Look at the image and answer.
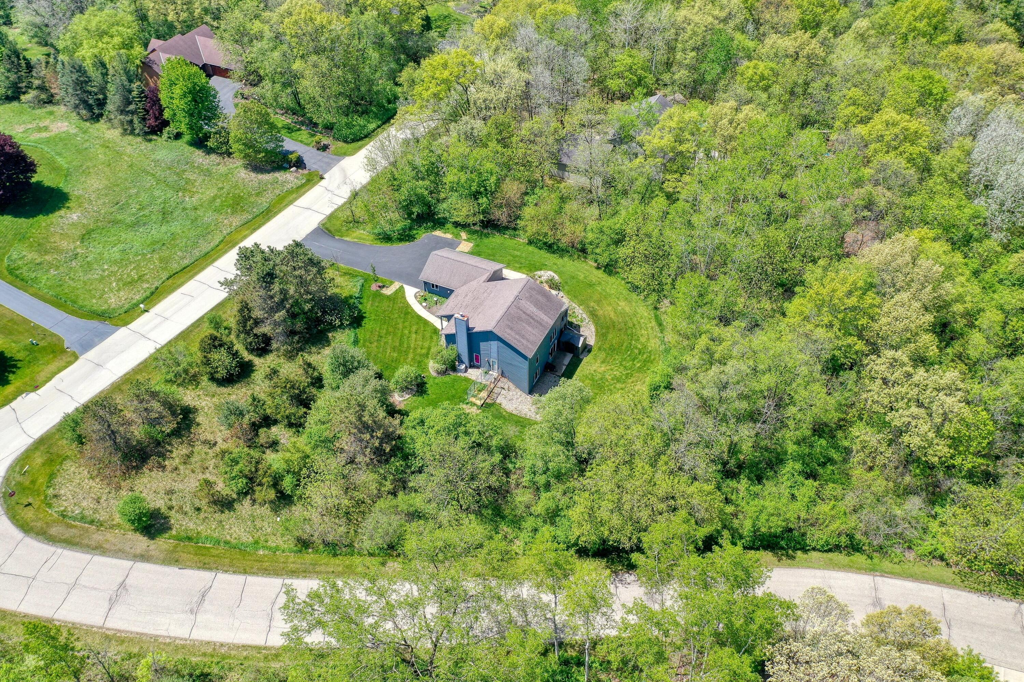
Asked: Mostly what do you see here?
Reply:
trees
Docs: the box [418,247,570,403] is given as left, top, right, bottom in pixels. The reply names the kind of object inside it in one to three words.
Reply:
house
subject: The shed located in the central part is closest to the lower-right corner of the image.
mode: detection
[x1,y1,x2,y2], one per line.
[559,327,587,355]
